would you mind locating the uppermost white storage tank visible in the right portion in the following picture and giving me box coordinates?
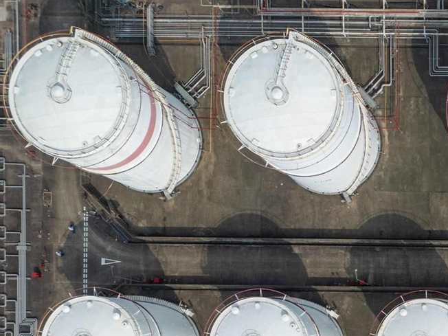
[219,25,382,199]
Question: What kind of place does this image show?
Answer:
industrial area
